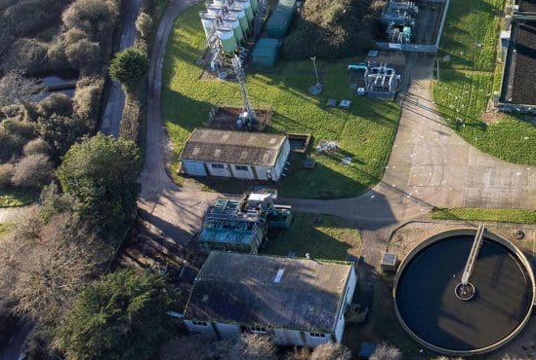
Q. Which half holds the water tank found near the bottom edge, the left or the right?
right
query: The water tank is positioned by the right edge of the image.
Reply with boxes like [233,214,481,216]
[393,223,536,360]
